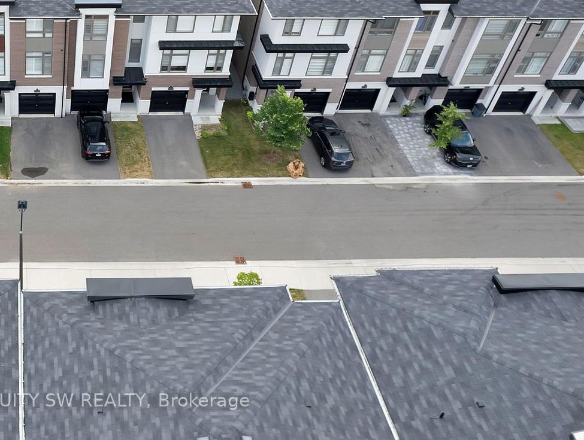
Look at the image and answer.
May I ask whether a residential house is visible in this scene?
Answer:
Yes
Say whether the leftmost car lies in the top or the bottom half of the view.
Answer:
top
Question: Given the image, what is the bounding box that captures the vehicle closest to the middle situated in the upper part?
[305,113,354,165]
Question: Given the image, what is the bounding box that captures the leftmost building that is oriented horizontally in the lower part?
[19,276,395,440]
